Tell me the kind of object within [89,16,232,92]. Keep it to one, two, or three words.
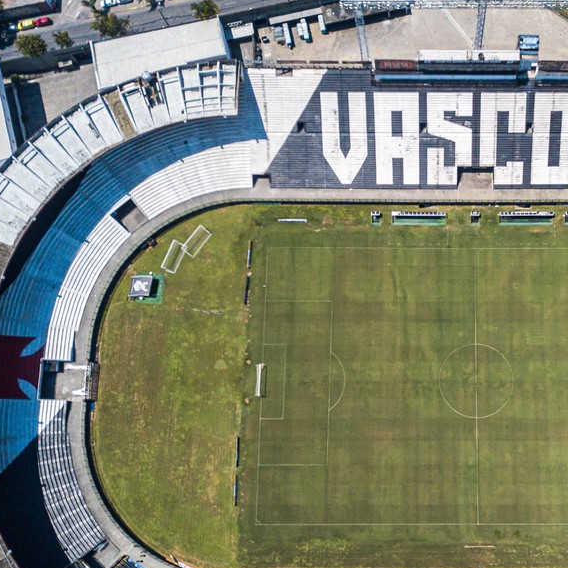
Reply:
building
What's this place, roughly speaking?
sports ground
